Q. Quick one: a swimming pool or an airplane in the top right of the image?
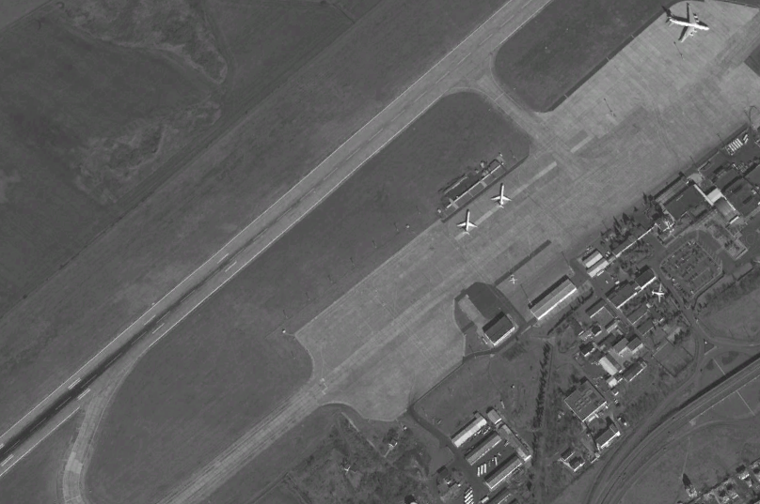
airplane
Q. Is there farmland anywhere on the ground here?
Yes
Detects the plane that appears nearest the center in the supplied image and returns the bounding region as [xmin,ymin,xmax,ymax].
[459,211,479,233]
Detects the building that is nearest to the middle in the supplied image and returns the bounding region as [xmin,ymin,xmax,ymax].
[486,314,515,345]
